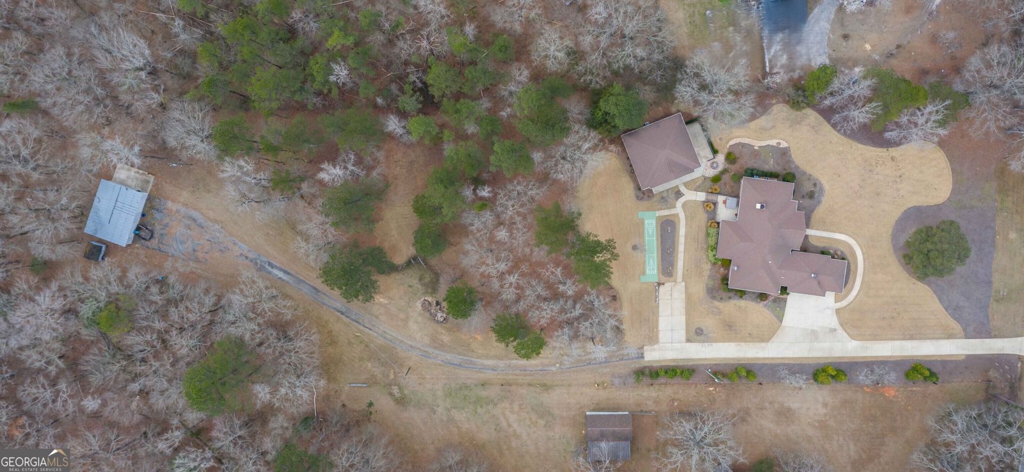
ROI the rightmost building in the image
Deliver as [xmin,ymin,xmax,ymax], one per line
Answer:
[715,177,848,297]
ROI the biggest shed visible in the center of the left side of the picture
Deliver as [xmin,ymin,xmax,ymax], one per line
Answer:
[85,180,154,247]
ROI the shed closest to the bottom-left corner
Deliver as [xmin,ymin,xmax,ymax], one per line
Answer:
[84,242,108,261]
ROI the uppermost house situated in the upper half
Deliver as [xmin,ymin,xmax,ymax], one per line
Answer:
[621,113,701,189]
